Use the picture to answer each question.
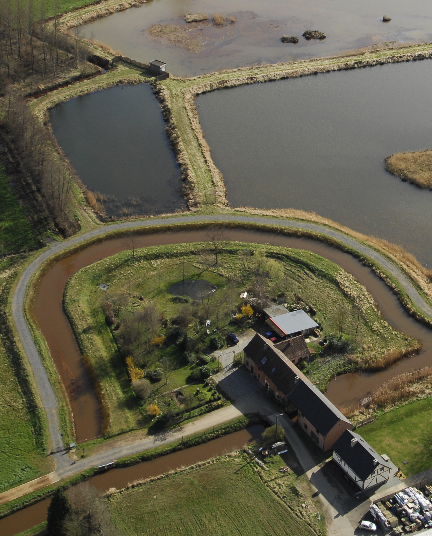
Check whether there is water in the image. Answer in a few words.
Yes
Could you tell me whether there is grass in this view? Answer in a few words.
Yes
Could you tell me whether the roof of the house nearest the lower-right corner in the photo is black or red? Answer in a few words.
black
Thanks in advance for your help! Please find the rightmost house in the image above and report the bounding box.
[330,429,392,492]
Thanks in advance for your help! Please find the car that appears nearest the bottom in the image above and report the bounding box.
[357,519,378,533]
